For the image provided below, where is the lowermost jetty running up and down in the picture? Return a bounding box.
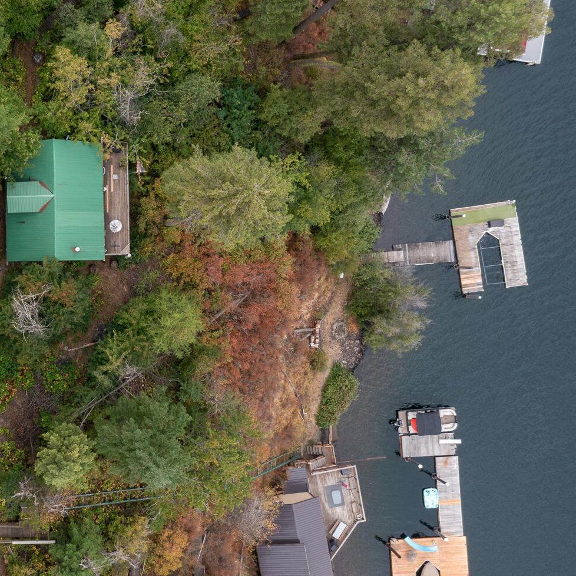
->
[433,455,464,535]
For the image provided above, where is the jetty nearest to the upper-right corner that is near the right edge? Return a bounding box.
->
[473,0,550,65]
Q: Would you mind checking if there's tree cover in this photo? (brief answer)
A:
Yes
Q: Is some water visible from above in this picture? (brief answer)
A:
Yes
